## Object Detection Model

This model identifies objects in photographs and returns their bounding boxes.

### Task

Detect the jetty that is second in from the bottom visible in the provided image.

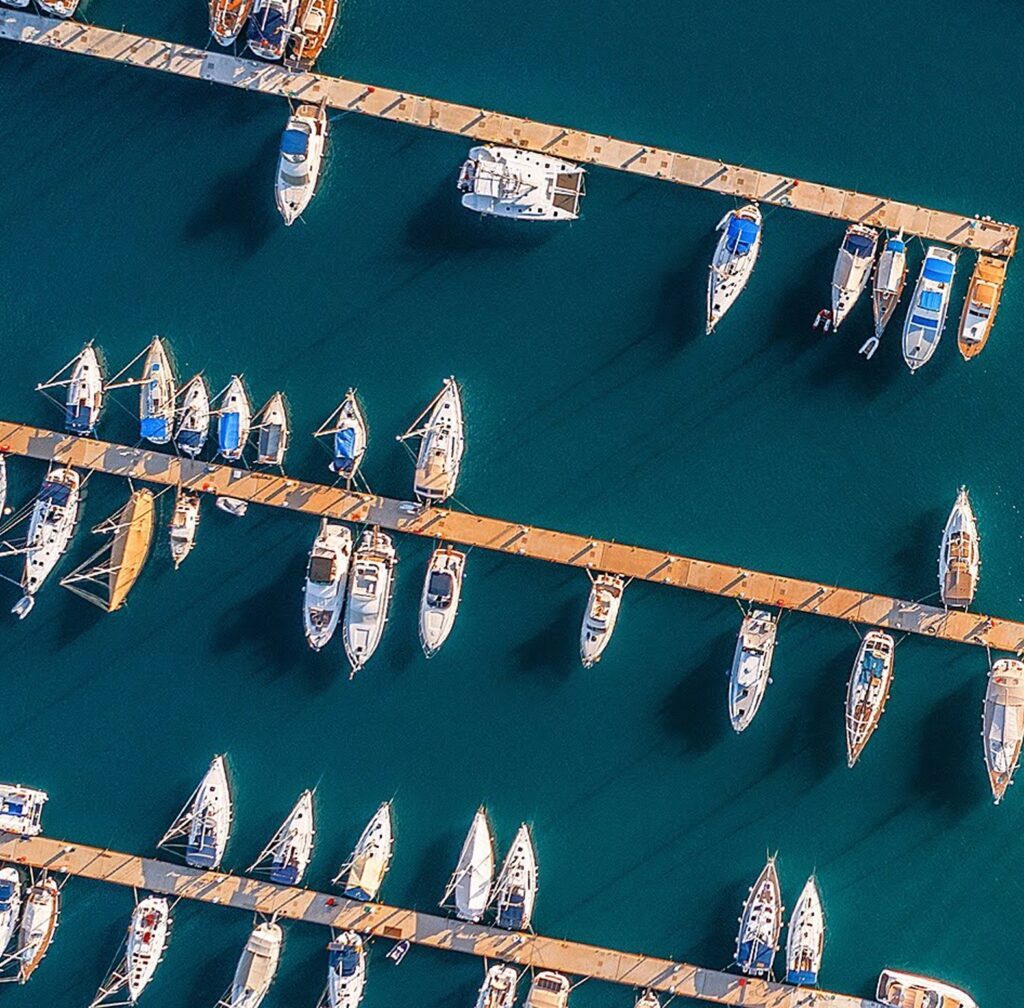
[0,421,1024,653]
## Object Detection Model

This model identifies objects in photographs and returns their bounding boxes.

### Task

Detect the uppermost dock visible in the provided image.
[0,7,1019,256]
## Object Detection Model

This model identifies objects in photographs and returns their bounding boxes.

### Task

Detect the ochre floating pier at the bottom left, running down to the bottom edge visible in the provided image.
[0,829,904,1008]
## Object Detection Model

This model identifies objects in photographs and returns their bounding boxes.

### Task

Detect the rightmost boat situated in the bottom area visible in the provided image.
[980,647,1024,807]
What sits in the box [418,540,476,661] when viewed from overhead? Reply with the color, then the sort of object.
white boat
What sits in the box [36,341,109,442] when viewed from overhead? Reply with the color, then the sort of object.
white boat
